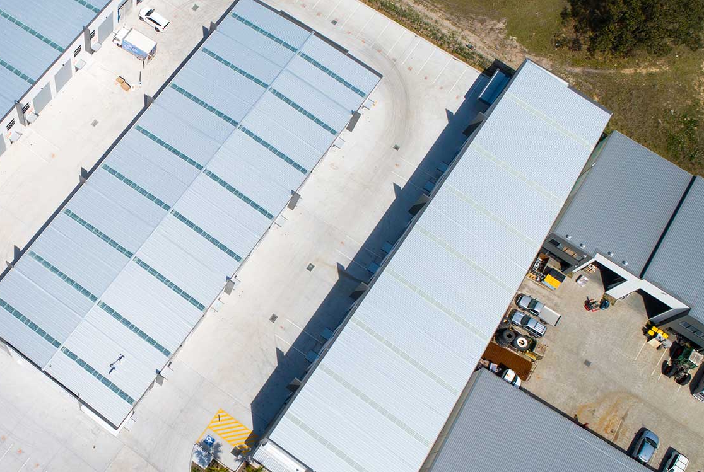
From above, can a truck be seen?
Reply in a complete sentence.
Yes, the frame does contain a truck.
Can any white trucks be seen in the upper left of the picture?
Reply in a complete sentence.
Yes, a white truck is visible in the upper left of the picture.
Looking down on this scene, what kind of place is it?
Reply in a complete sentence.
It's an industrial area.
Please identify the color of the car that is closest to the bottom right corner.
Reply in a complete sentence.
The car that is closest to the bottom right corner is blue.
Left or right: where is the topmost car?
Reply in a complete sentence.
The topmost car is on the left side of the image.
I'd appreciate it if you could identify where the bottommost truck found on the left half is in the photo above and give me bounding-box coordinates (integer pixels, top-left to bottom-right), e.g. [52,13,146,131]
[110,28,164,62]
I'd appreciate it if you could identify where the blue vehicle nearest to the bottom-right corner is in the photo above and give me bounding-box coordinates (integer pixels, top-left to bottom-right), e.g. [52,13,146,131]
[628,429,659,464]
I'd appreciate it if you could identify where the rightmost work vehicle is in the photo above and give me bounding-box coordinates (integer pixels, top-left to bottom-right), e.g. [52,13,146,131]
[655,345,704,387]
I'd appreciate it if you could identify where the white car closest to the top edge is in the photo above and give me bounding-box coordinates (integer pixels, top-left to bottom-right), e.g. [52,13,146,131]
[137,8,170,32]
